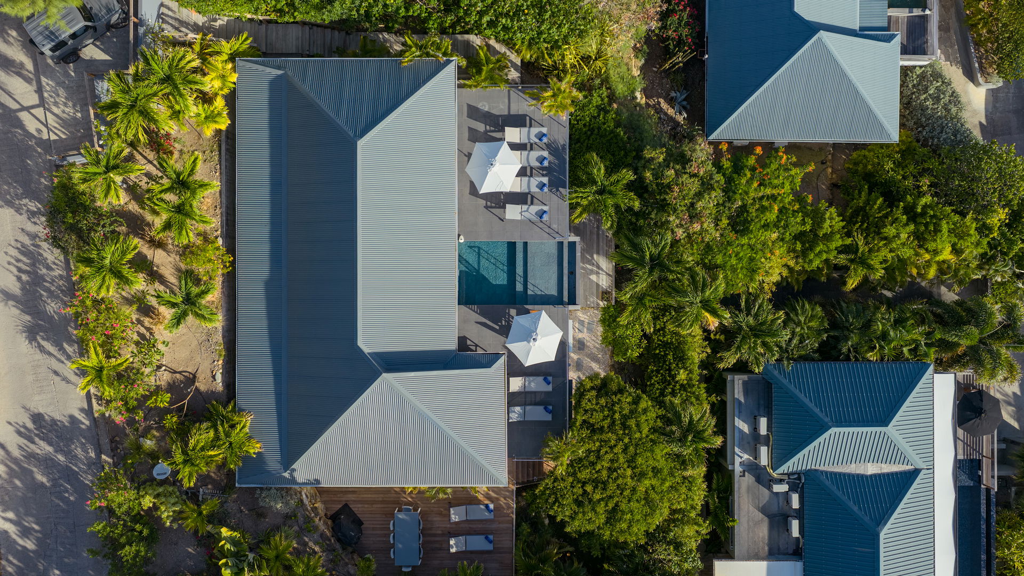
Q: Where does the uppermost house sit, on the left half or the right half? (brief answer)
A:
right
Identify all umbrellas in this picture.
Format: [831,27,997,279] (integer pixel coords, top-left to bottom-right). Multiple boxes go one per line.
[953,390,1002,437]
[466,141,522,194]
[506,310,563,366]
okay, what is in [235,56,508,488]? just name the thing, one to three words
house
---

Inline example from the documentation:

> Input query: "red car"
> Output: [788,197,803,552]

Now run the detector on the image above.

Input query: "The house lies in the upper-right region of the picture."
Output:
[702,0,901,144]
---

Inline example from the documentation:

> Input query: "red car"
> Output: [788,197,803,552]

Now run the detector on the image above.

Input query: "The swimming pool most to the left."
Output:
[458,238,580,310]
